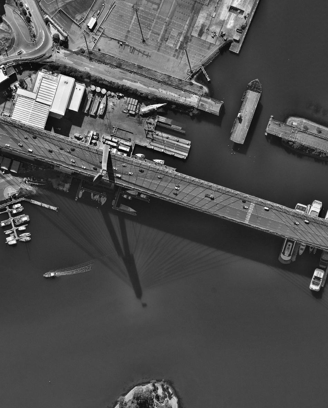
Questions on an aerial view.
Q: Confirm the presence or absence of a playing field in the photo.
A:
No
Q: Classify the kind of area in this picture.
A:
port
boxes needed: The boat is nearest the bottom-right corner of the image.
[311,267,327,291]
